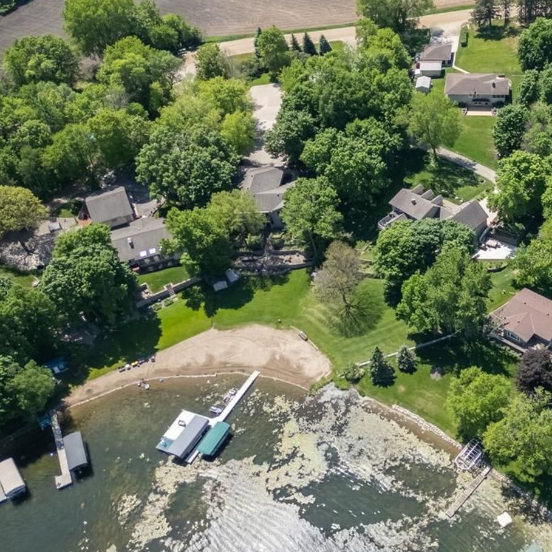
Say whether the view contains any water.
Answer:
Yes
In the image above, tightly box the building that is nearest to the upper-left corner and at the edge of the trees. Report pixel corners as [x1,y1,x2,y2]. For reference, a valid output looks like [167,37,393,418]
[74,186,135,235]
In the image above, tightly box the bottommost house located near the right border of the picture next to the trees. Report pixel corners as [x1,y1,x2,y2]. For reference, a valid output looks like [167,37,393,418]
[485,288,552,359]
